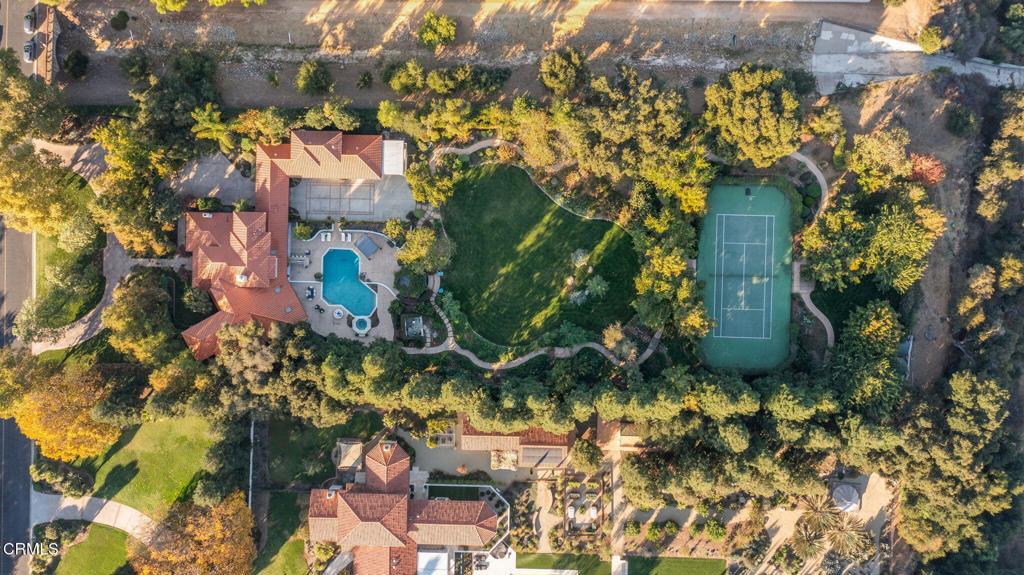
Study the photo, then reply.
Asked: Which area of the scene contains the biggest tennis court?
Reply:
right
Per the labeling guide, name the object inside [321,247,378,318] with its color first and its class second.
blue swimming pool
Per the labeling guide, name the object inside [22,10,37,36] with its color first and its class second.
gray car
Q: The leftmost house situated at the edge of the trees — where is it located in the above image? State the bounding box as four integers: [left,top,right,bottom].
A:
[181,131,382,360]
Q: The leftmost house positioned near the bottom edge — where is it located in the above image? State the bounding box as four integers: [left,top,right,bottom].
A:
[307,439,497,575]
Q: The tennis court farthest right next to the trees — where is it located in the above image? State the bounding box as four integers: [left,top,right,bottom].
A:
[699,183,794,369]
